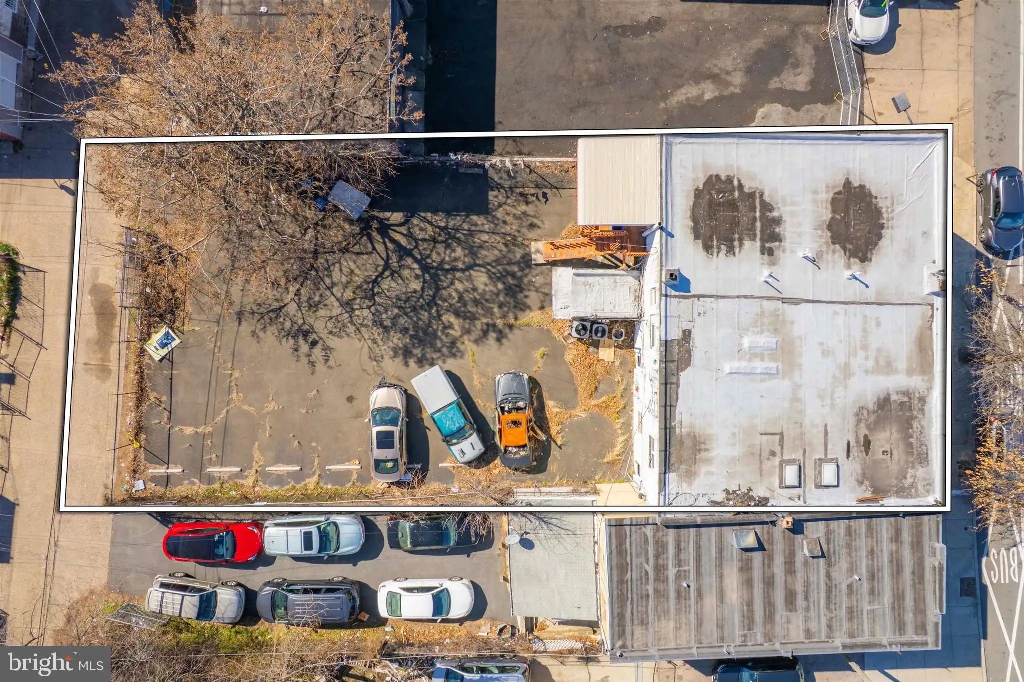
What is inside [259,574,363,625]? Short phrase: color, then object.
gray car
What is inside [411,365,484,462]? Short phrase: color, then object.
white truck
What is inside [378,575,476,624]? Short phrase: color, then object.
white car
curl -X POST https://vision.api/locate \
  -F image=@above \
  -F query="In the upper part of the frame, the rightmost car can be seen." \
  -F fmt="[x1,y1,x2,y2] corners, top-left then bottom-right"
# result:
[971,167,1024,257]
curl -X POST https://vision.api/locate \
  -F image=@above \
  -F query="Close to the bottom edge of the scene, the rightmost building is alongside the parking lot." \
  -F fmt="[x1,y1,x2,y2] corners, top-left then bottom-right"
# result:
[591,490,949,663]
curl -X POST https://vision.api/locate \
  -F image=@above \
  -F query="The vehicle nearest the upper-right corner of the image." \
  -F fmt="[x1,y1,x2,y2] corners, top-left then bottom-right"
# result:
[844,0,895,50]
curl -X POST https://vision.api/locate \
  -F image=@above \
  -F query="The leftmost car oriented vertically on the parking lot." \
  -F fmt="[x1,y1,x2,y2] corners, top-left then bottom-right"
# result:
[365,374,410,482]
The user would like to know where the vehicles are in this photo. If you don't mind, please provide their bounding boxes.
[163,517,265,566]
[263,510,368,559]
[844,0,895,50]
[705,657,809,682]
[378,575,476,624]
[365,374,410,482]
[259,574,363,625]
[492,370,547,466]
[971,167,1024,257]
[142,569,252,625]
[411,365,484,462]
[389,510,486,556]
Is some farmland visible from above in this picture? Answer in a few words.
No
